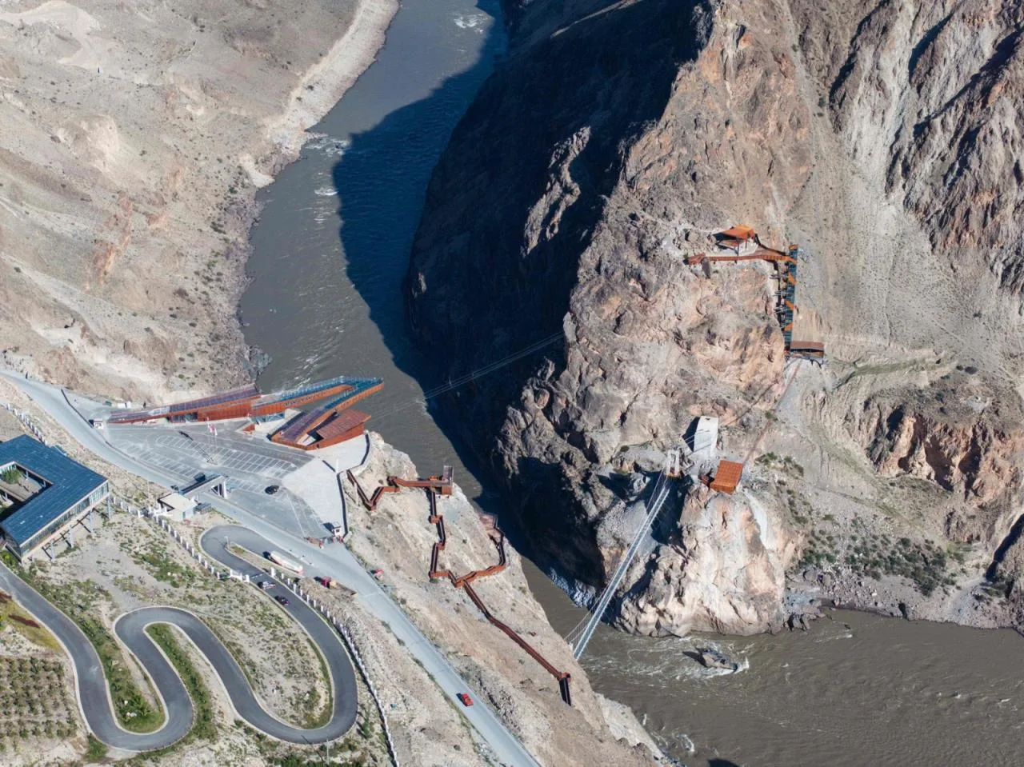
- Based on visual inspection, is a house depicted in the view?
Yes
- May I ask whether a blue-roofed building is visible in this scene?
Yes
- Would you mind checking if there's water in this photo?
Yes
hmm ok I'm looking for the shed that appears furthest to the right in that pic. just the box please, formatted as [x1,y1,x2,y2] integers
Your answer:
[790,341,825,363]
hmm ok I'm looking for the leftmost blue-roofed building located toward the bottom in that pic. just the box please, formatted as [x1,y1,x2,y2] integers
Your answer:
[0,434,110,567]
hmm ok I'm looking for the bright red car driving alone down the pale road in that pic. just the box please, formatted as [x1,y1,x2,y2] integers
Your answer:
[457,689,473,705]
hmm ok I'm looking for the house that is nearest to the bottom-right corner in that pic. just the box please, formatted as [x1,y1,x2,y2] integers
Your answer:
[703,461,743,493]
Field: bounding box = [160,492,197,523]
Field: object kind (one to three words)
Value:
building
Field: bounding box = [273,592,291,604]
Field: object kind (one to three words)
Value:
vehicle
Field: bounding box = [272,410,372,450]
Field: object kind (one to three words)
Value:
building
